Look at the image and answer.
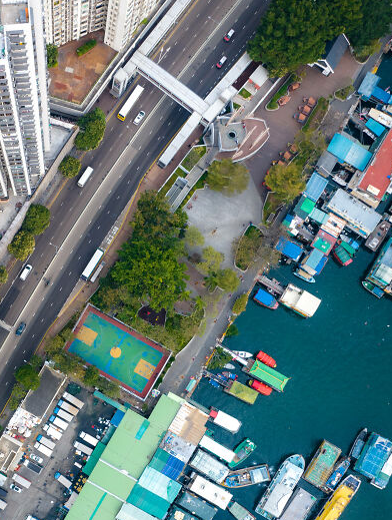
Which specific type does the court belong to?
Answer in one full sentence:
It turns out the court is a basketball court.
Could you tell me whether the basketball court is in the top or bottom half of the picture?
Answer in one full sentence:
The bottom half of the photo is where the basketball court is.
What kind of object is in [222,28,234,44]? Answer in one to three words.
vehicle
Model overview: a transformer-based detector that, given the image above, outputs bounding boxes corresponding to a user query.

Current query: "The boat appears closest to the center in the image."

[250,286,280,308]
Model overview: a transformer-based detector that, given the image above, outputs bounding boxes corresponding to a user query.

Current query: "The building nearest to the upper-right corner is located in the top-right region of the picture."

[309,32,345,79]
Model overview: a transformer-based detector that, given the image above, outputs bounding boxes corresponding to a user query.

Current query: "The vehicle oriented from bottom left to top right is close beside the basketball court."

[80,247,106,284]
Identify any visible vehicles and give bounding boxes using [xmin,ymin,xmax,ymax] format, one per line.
[77,166,93,188]
[62,390,86,410]
[133,110,146,126]
[29,453,46,465]
[53,405,76,422]
[11,472,34,492]
[22,457,45,477]
[80,247,106,284]
[33,441,55,460]
[57,396,81,415]
[115,83,145,125]
[53,467,75,491]
[214,57,226,70]
[25,513,38,520]
[47,413,71,432]
[15,321,26,336]
[78,431,100,449]
[72,438,96,458]
[35,433,58,452]
[222,28,234,44]
[19,264,33,283]
[9,481,26,493]
[0,499,10,513]
[43,422,65,442]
